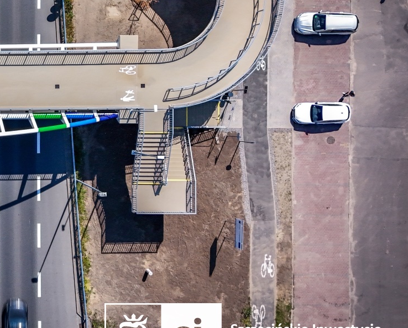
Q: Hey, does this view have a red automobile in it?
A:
No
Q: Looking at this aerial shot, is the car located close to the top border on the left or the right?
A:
right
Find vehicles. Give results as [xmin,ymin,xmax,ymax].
[297,8,359,36]
[2,301,30,328]
[292,99,348,126]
